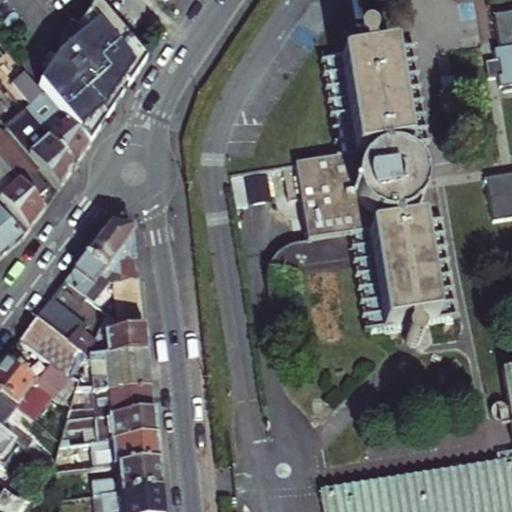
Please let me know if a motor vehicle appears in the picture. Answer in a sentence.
Yes, a motor vehicle is visible in the scene.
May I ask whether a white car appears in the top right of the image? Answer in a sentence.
No, no white car appears in the top right of the image.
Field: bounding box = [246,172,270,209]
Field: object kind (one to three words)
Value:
building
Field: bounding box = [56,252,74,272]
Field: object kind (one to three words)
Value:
car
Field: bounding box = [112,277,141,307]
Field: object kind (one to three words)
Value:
house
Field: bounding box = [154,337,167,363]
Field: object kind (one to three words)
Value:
vehicle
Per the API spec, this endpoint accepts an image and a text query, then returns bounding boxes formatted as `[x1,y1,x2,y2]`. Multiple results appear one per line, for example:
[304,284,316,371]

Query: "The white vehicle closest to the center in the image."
[186,334,198,360]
